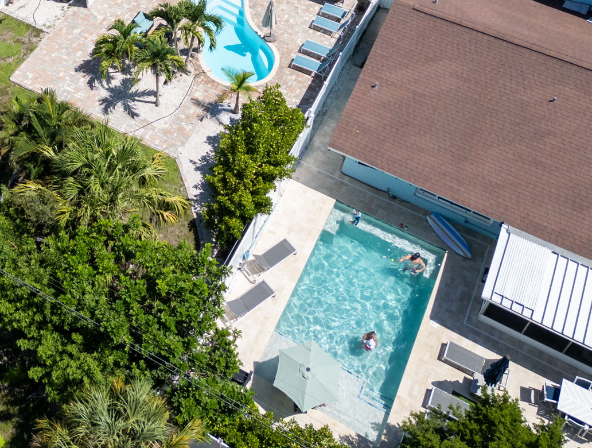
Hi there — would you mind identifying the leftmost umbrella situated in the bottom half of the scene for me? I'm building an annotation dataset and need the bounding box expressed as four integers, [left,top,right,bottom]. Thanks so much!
[273,339,342,411]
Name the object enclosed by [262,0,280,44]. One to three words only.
umbrella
